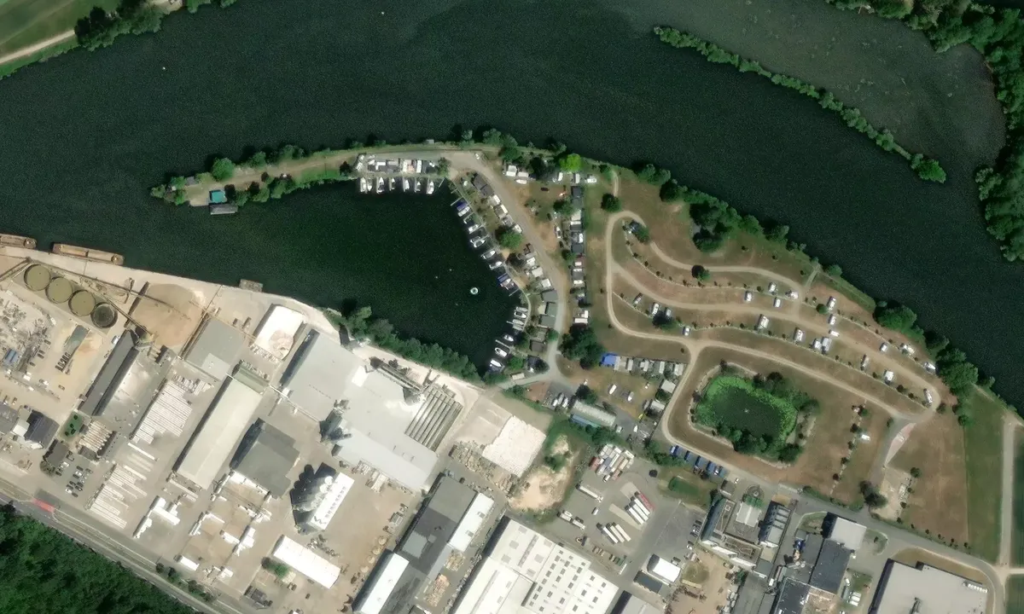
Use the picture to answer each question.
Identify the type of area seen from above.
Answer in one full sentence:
This looks like a port.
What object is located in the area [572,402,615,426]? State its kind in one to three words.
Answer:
shed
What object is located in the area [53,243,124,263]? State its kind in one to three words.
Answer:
ship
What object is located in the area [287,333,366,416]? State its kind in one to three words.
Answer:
building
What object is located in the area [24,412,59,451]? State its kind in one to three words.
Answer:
house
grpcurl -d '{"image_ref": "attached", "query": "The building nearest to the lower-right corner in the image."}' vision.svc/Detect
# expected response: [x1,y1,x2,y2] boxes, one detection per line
[876,561,988,614]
